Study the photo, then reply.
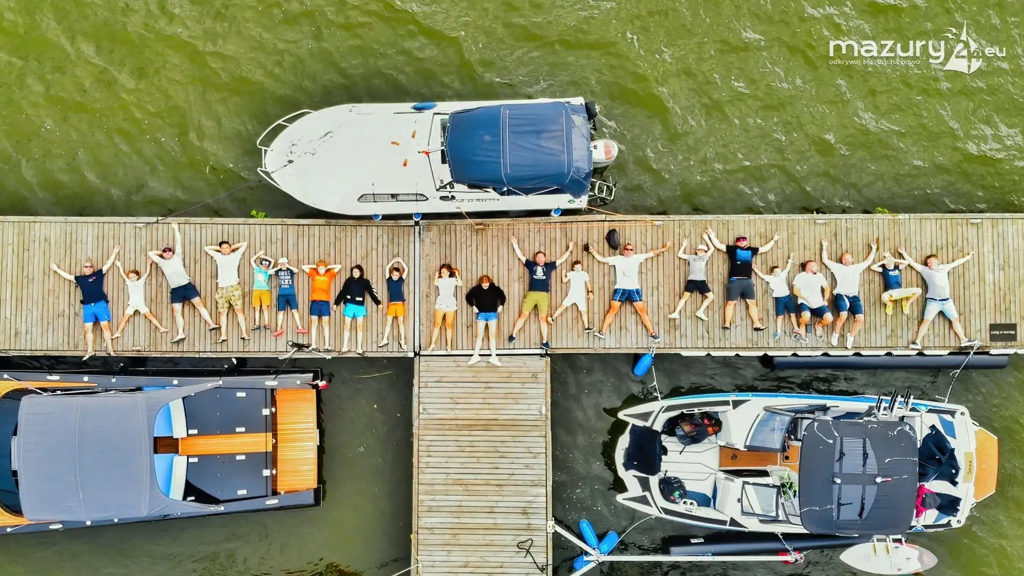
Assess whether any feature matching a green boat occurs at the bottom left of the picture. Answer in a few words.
No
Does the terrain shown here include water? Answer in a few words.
Yes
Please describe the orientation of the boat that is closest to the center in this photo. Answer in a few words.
from left to right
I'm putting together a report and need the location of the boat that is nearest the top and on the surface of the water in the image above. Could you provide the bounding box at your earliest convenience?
[257,95,618,217]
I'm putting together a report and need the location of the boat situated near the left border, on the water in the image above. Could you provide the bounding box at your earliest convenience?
[0,368,322,534]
